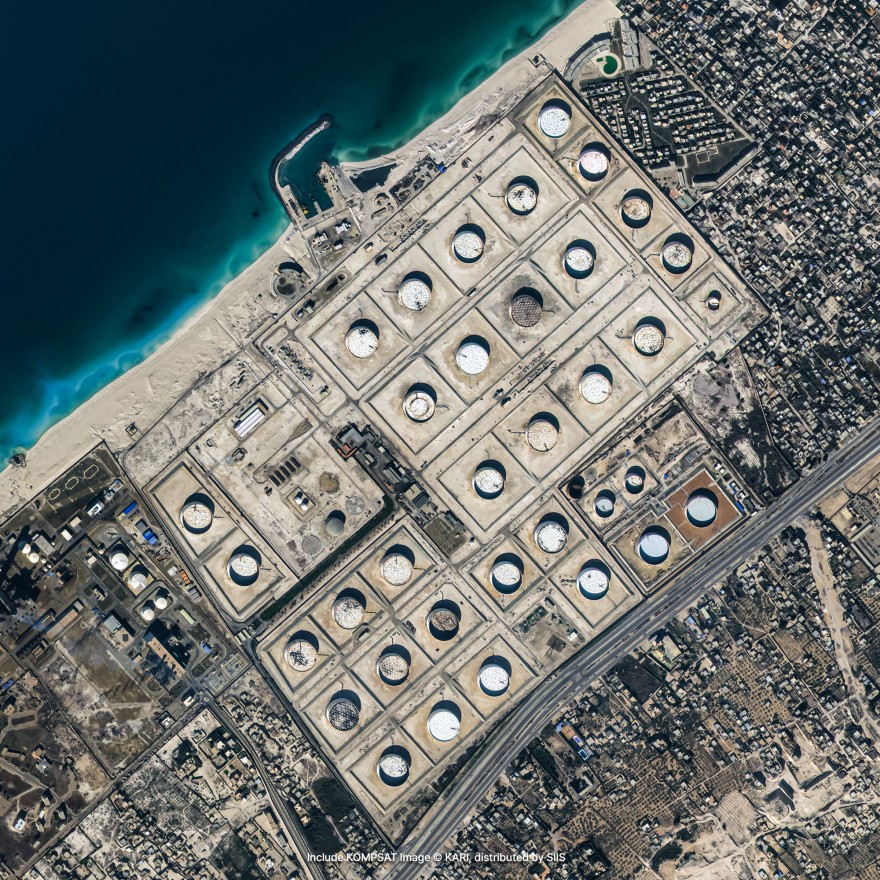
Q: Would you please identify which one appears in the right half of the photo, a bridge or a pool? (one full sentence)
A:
The feature located in the right half of the photo is a pool.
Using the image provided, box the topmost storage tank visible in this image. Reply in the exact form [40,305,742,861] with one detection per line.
[536,104,571,150]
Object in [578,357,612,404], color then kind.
white storage tank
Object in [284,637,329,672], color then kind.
white storage tank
